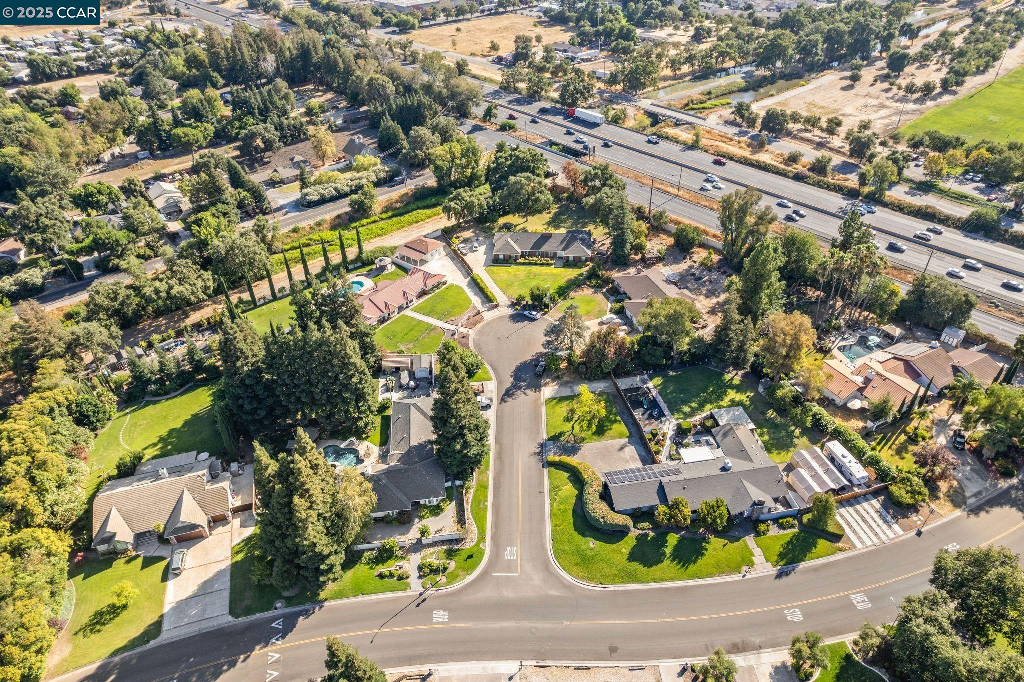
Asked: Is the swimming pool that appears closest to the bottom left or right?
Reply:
left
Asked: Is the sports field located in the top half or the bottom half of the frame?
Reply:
top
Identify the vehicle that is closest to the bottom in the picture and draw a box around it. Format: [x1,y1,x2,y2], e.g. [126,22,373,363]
[168,544,187,573]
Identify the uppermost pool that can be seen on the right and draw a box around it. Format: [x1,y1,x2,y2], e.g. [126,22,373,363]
[837,335,883,364]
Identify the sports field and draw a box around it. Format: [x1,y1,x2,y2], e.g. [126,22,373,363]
[900,52,1024,153]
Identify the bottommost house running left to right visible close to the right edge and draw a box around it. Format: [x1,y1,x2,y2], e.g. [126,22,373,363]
[822,339,998,431]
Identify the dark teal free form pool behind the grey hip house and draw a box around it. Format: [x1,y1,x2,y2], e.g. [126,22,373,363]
[322,446,362,472]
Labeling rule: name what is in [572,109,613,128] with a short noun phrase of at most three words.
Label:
vehicle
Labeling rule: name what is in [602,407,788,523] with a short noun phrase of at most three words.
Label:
house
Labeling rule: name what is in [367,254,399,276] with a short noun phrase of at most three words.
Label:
gazebo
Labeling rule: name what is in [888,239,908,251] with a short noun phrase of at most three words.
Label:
vehicle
